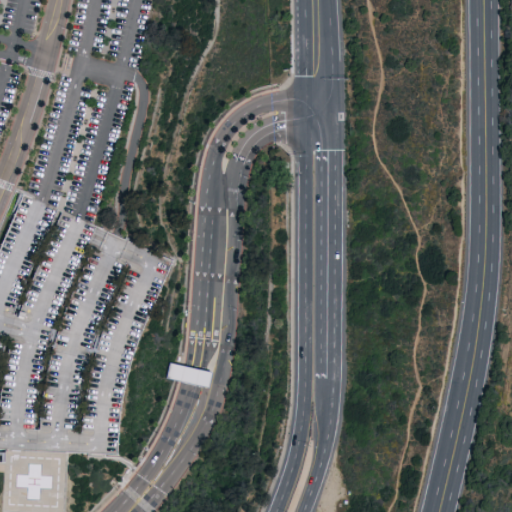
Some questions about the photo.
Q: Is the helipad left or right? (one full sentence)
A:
The helipad is on the left side of the image.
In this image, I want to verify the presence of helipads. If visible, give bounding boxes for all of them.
[4,450,68,512]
